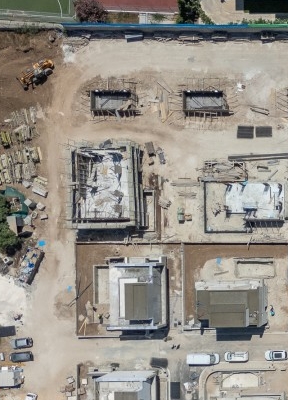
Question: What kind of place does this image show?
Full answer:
It's a residential area.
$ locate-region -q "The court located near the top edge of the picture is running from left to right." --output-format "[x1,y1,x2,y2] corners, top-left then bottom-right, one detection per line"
[101,0,179,12]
